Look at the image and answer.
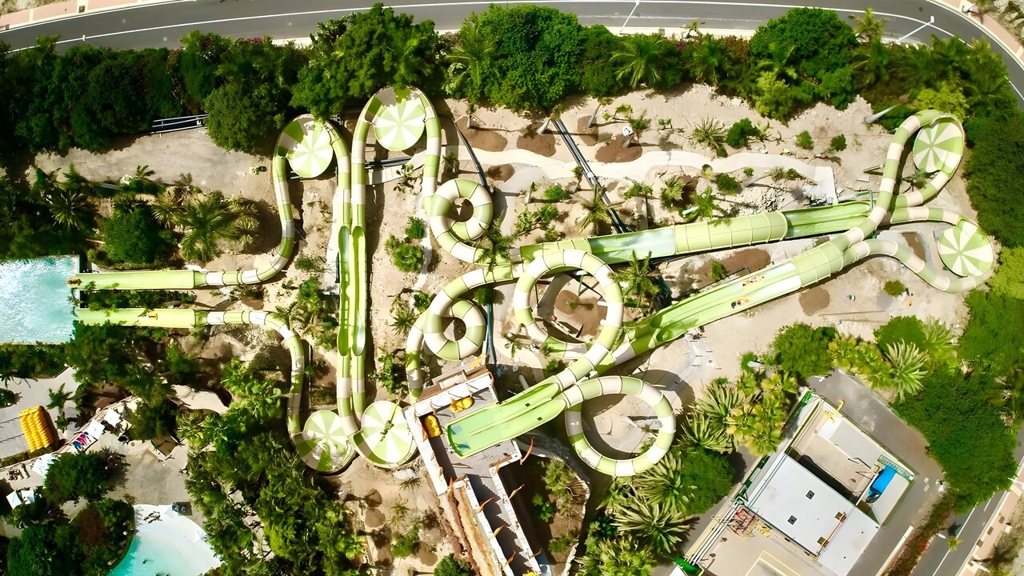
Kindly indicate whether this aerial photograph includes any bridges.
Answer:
No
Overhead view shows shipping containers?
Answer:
No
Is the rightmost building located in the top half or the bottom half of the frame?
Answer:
bottom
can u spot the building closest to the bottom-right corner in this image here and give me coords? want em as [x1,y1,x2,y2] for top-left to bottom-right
[741,449,880,576]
